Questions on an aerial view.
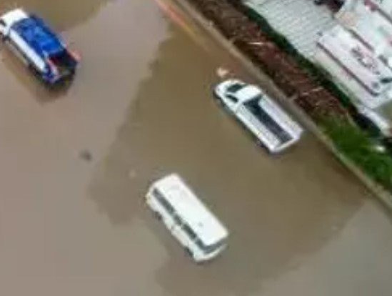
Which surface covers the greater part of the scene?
water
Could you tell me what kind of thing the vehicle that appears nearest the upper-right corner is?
truck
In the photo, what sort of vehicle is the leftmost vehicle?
truck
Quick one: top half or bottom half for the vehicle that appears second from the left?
bottom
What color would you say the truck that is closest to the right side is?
white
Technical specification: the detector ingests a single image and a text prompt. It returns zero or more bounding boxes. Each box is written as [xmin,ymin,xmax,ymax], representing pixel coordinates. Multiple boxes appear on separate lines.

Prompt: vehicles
[2,14,77,92]
[145,179,224,261]
[221,84,302,154]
